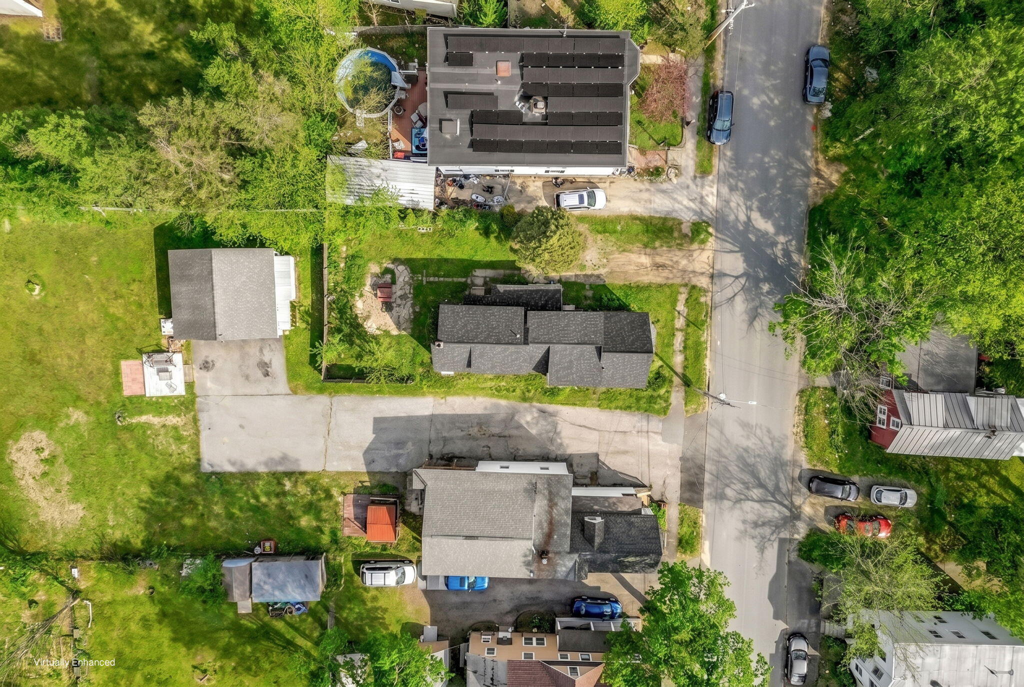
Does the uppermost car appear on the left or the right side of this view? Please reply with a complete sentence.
The uppermost car is on the right side of the image.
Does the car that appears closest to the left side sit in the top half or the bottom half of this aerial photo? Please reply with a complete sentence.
The bottom half of the photo is where the car that appears closest to the left side is.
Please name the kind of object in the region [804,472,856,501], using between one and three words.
car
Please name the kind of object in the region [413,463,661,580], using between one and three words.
house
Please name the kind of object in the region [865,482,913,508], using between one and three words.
car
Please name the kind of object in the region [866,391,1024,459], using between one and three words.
house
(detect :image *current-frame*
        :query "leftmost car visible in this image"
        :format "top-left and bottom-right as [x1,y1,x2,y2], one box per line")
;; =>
[363,557,417,585]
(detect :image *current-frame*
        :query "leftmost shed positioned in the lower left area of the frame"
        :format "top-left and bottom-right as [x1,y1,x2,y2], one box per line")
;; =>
[222,558,254,602]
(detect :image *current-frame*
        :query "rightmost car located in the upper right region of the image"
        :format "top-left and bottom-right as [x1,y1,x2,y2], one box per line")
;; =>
[801,48,830,104]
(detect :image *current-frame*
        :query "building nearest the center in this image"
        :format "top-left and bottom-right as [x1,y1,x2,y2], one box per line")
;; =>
[431,284,657,388]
